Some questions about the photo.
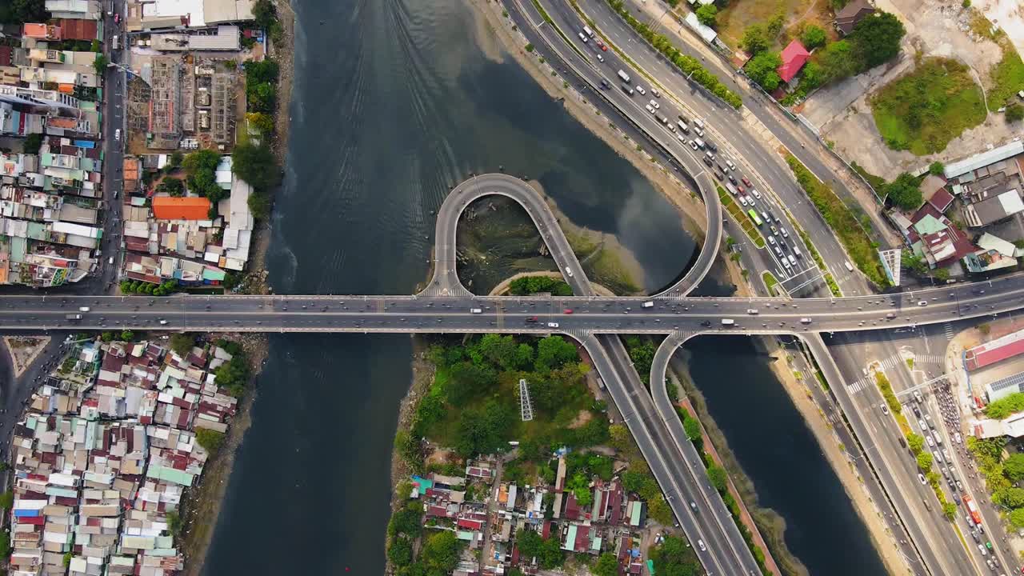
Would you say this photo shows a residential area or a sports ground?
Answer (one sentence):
It's a residential area.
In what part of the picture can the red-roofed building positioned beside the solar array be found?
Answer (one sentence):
The red-roofed building positioned beside the solar array is in the right part of the image.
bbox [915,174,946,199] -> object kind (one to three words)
building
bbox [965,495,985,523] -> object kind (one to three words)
bus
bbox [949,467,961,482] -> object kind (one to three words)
vehicle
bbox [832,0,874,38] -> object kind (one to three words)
house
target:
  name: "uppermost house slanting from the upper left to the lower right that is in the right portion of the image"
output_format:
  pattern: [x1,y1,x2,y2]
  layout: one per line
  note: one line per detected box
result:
[684,13,717,43]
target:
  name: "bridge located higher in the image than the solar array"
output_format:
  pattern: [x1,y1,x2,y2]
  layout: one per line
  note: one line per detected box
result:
[0,274,1024,333]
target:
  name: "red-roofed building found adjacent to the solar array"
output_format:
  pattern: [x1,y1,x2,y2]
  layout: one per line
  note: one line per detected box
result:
[959,326,1024,371]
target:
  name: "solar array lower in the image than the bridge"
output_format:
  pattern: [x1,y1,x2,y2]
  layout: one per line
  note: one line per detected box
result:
[991,372,1024,393]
